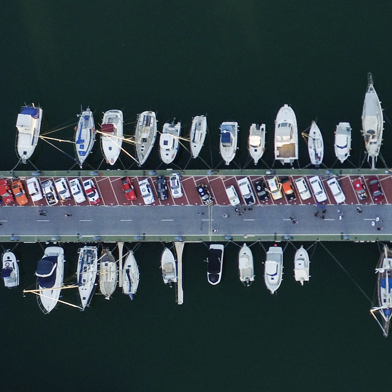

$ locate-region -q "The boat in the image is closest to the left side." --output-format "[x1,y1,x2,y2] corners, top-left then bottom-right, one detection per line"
[0,245,19,287]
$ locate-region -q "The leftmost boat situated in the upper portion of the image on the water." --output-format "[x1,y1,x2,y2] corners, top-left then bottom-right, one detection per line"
[10,105,44,171]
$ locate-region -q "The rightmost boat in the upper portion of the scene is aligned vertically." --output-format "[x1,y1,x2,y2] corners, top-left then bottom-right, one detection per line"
[359,72,386,169]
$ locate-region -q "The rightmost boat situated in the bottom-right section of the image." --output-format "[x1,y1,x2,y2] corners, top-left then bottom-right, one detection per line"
[322,242,392,337]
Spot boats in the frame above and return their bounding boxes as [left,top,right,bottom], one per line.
[301,121,327,170]
[98,111,158,169]
[322,242,392,337]
[231,242,258,284]
[97,109,124,170]
[34,242,68,313]
[0,245,19,287]
[155,120,181,170]
[10,105,44,171]
[272,100,300,168]
[98,245,119,299]
[39,109,98,169]
[24,245,99,310]
[103,252,141,296]
[260,242,286,296]
[248,122,268,169]
[333,123,353,165]
[218,122,239,168]
[294,244,312,284]
[359,72,386,169]
[160,245,178,285]
[203,242,227,285]
[158,115,210,169]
